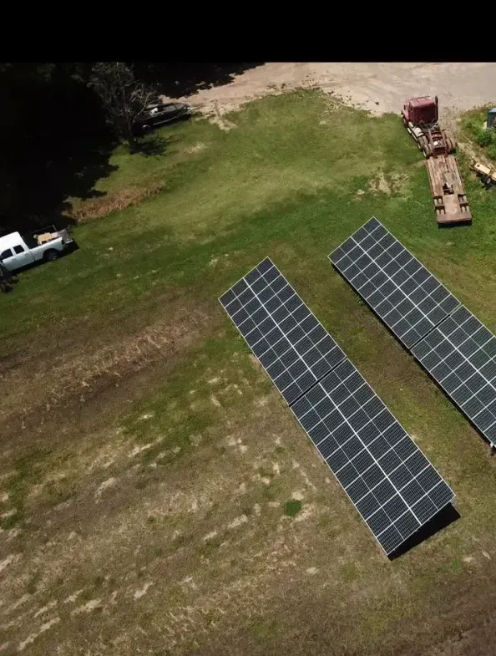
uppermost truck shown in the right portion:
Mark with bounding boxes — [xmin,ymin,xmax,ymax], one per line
[407,98,452,159]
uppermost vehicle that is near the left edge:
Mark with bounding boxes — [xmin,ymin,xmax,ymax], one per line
[0,221,77,272]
